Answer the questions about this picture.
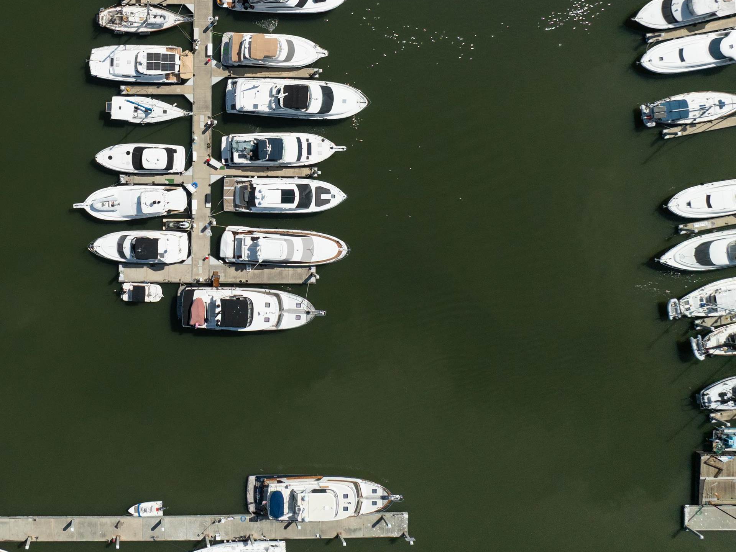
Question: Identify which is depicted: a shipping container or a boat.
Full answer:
Visible in the photo is a boat.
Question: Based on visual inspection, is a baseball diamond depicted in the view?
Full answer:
No, this view has no baseball diamond in it.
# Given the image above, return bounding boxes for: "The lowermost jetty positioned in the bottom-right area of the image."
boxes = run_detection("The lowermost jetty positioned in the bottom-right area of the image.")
[678,503,736,532]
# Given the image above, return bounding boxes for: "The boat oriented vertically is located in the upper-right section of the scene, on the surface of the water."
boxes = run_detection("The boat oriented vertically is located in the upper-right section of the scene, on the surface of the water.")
[641,102,654,126]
